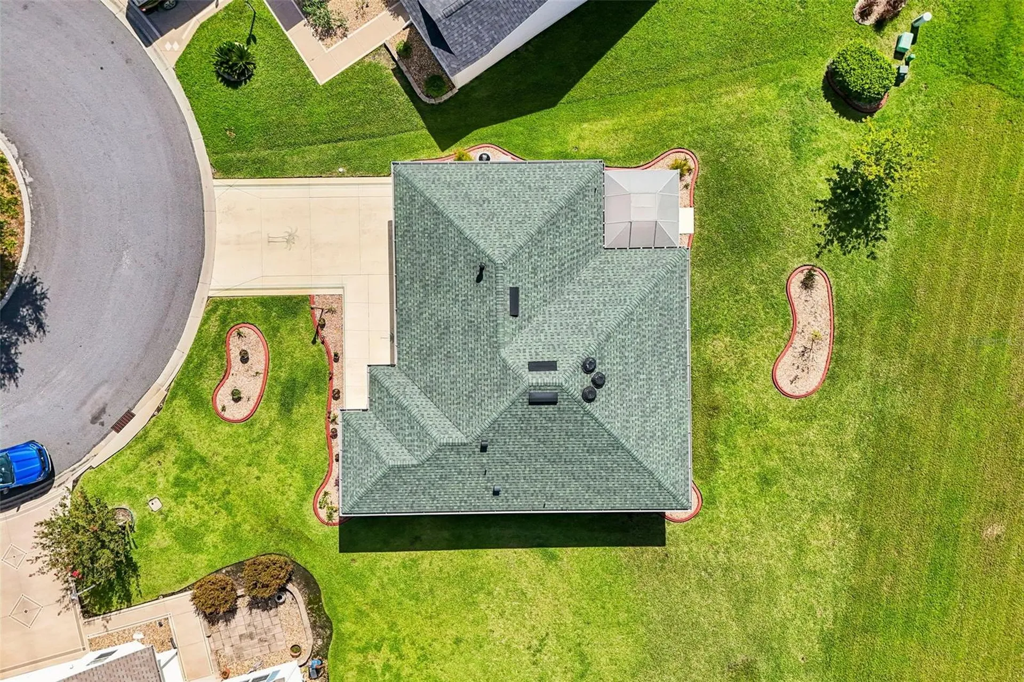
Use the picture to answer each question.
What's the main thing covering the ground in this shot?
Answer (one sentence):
The largest share of the image is taken up by grass.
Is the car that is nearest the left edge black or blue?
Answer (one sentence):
The car that is nearest the left edge is blue.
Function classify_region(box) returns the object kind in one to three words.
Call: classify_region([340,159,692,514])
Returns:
house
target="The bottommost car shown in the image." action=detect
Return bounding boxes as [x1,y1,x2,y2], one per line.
[0,441,59,494]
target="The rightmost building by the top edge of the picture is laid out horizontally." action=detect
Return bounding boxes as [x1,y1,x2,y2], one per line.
[400,0,593,90]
